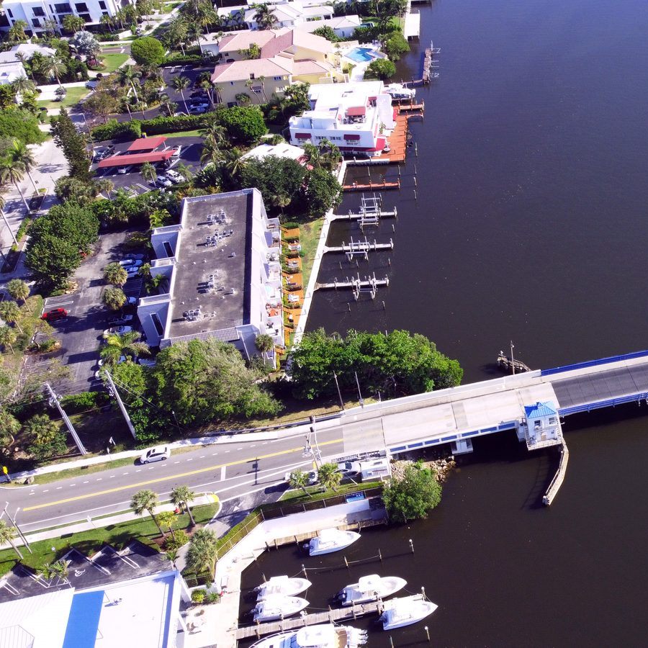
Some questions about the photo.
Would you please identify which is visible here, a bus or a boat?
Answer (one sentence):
It is a boat that can be seen here.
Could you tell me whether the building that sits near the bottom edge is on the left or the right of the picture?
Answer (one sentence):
The building that sits near the bottom edge sits on the left side.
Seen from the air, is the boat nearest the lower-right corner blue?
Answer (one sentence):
No, the boat nearest the lower-right corner is actually white.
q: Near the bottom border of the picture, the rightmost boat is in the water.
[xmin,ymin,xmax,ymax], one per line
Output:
[377,598,439,636]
